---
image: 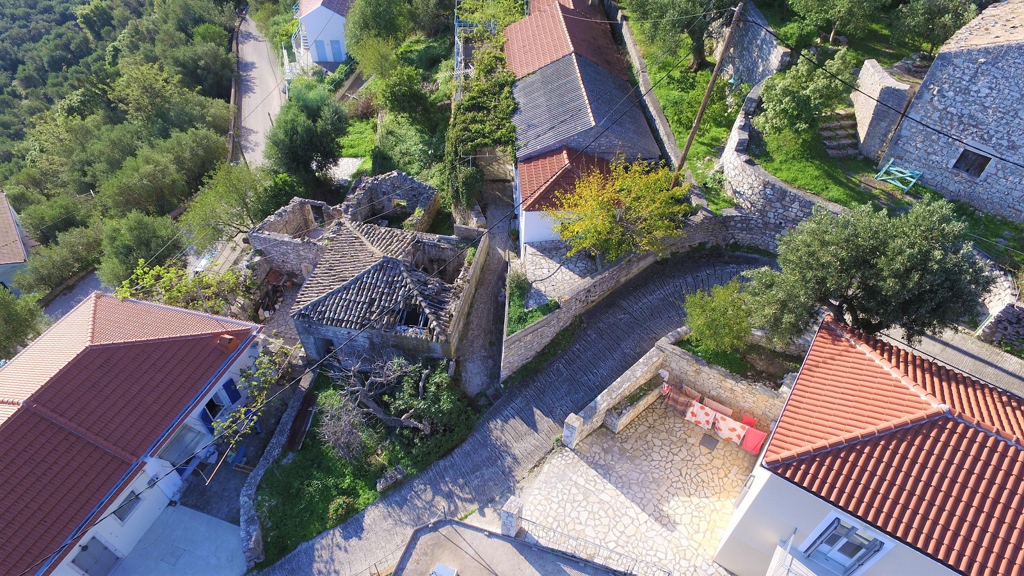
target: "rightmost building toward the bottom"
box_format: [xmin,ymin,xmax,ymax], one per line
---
[715,311,1024,576]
